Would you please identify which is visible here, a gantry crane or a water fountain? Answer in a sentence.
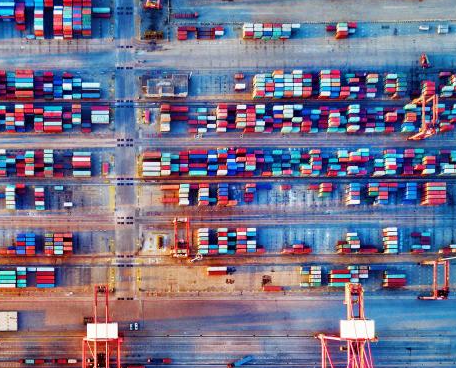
The image shows a gantry crane.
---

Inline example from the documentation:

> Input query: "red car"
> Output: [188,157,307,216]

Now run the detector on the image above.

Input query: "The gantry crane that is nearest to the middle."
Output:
[169,219,190,262]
